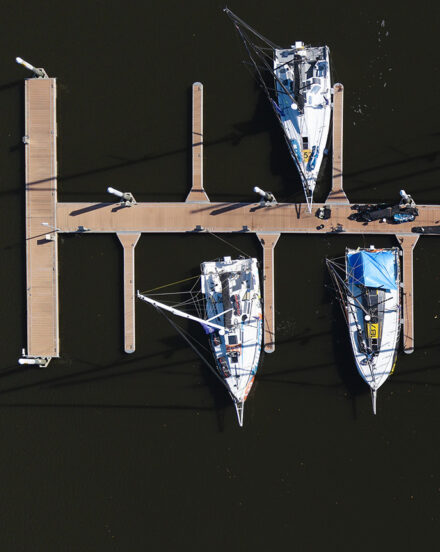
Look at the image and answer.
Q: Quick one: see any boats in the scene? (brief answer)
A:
Yes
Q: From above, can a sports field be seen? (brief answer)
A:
No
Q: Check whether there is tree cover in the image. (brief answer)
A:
No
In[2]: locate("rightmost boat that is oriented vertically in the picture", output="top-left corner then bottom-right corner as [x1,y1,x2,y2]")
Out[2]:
[326,243,400,414]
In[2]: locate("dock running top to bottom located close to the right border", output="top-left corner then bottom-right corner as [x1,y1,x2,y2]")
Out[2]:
[395,234,419,353]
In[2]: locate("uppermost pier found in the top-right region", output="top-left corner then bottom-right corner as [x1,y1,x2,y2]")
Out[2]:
[326,86,350,204]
